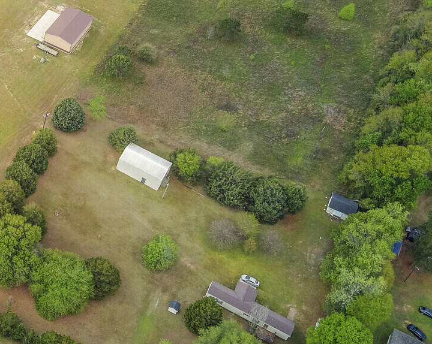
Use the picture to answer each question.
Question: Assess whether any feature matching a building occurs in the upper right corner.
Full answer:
No, no building appears in the upper right corner.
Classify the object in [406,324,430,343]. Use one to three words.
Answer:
car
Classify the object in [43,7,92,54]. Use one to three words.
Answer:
barn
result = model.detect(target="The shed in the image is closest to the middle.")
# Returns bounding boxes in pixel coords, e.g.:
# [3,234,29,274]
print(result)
[116,144,170,191]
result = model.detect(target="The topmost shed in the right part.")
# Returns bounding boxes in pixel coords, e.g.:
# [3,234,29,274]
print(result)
[325,194,360,224]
